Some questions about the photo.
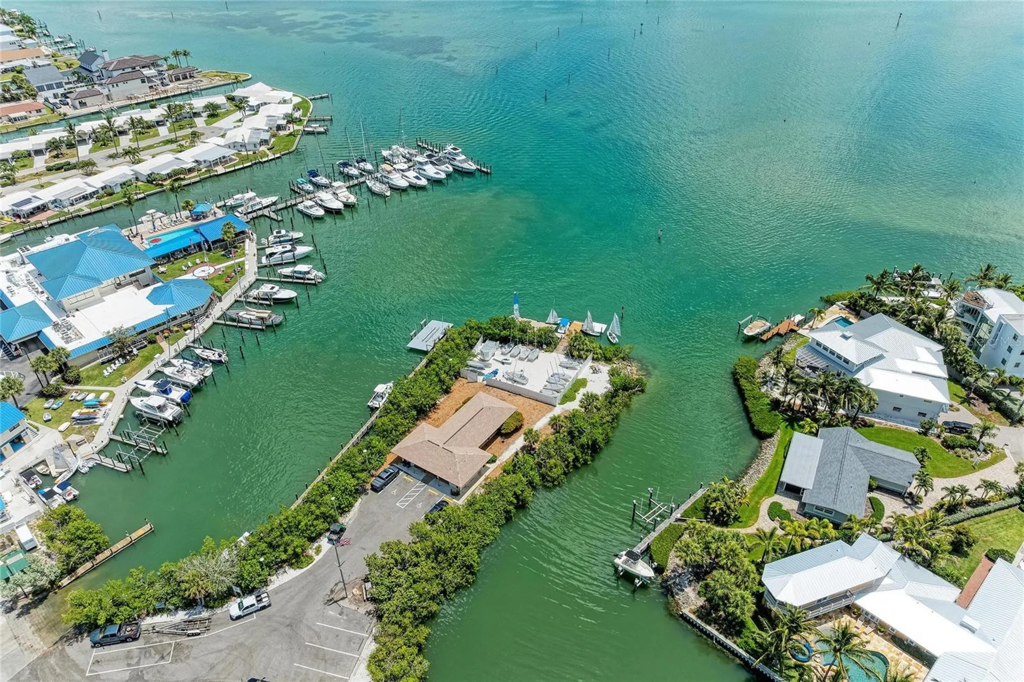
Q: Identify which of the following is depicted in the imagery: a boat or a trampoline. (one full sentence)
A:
There is a boat in the scene.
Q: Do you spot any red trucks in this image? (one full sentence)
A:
No, there appears to be no red truck in this shot.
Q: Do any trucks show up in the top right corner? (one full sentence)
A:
No, the scene shows no truck in the top right corner.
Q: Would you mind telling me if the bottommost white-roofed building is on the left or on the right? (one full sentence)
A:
The bottommost white-roofed building is on the right side of the image.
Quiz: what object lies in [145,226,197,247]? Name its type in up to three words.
swimming pool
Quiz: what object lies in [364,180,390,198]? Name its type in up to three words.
boat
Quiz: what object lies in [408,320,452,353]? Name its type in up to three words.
pier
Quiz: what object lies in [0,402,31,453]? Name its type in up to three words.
shed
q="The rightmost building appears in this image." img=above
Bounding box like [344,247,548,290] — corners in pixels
[948,287,1024,380]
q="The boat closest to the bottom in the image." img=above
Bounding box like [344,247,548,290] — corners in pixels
[608,554,654,580]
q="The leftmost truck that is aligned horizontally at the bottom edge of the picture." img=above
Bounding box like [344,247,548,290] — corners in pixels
[86,620,143,649]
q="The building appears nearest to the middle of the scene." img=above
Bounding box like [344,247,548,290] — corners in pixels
[390,392,517,497]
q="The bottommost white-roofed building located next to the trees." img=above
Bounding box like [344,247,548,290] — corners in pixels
[763,533,1024,682]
